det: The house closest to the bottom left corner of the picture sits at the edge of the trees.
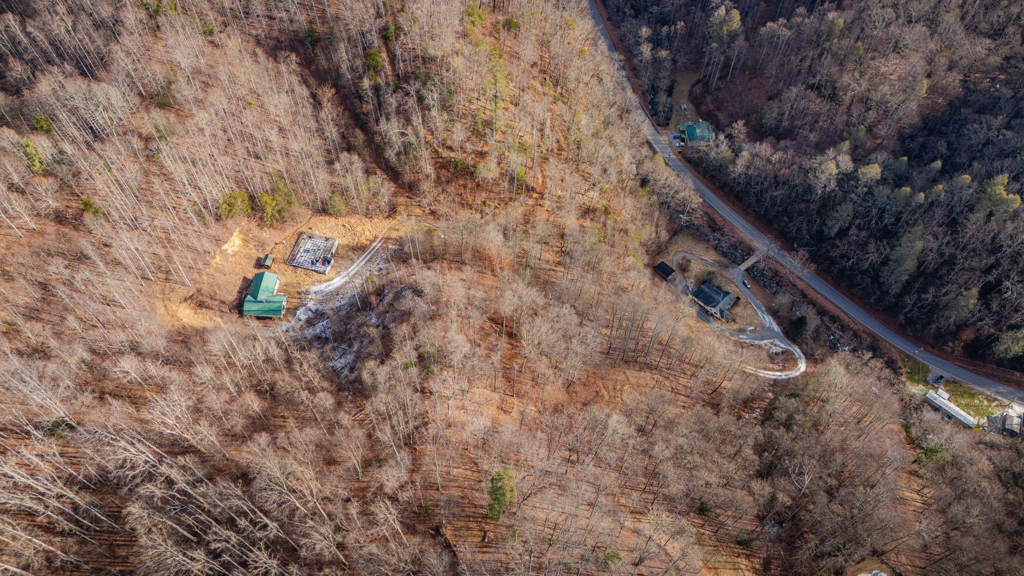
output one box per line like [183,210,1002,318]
[243,271,287,323]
